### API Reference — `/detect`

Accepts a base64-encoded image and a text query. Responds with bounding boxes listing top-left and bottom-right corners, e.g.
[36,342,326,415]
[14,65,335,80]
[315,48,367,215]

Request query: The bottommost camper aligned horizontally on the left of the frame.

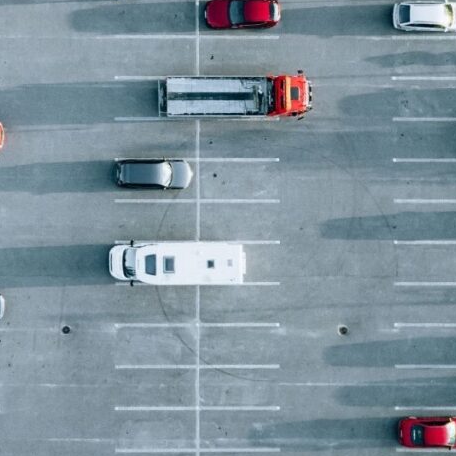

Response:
[108,239,247,286]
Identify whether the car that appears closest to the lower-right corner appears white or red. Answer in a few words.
red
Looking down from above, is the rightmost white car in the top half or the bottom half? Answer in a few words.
top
